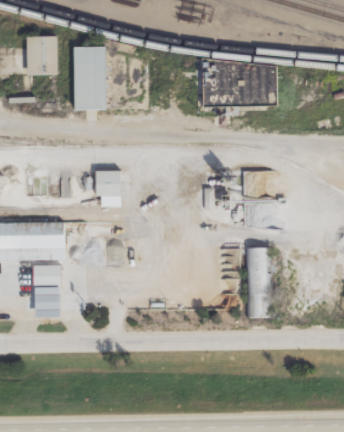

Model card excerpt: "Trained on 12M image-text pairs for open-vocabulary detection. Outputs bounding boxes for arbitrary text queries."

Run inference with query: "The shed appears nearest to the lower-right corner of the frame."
[246,248,270,318]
